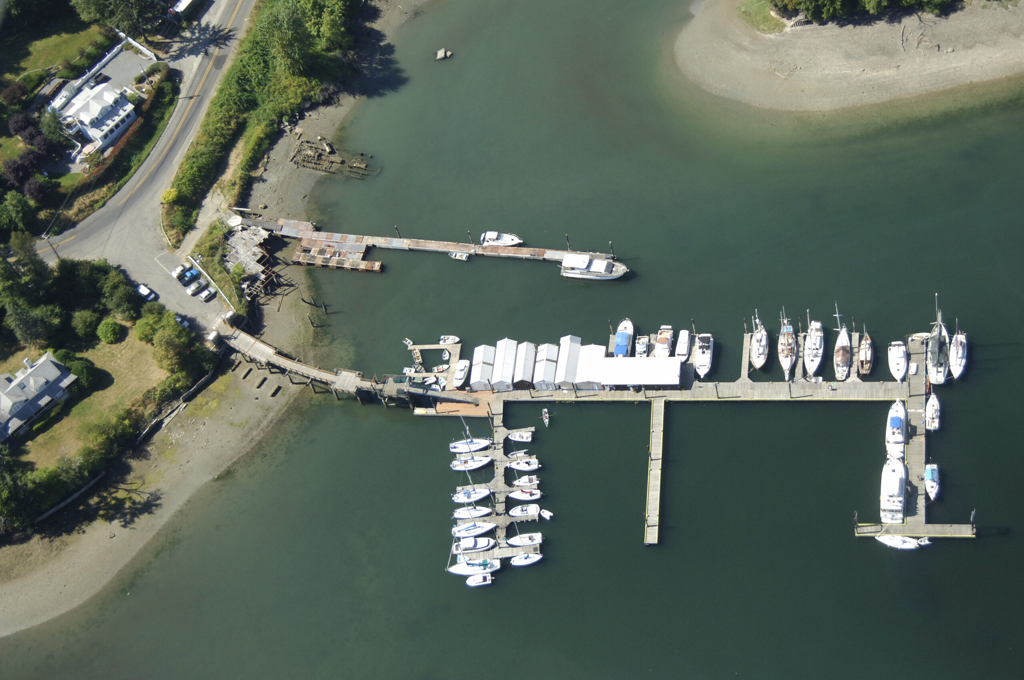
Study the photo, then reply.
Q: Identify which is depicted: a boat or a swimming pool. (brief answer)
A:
boat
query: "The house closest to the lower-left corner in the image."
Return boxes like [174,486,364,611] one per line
[0,350,80,448]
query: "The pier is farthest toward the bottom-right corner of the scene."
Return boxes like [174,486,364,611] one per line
[855,524,975,538]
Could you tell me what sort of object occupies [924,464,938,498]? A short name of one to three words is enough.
boat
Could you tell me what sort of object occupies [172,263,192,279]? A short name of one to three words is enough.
car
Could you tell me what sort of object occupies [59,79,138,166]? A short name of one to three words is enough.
house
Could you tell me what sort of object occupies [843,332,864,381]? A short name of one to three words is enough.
pier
